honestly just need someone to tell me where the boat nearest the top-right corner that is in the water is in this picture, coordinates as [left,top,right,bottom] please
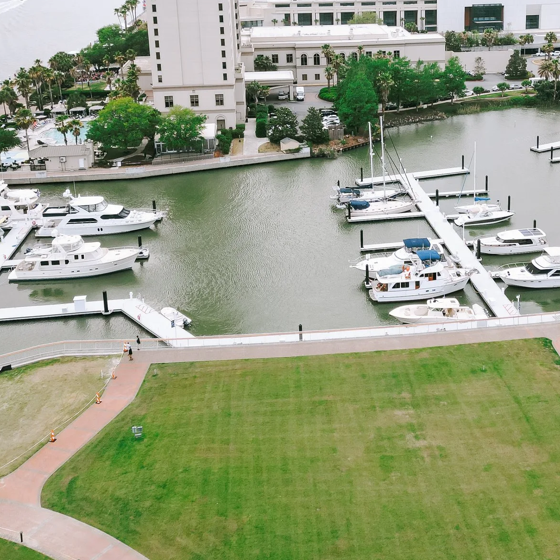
[457,146,504,212]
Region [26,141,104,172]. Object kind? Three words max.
shed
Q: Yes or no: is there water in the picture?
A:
Yes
